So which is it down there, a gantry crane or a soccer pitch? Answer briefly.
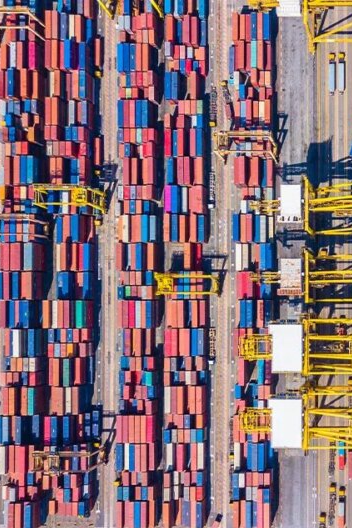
gantry crane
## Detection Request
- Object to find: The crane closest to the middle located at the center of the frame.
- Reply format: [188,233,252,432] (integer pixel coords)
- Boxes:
[155,273,221,298]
